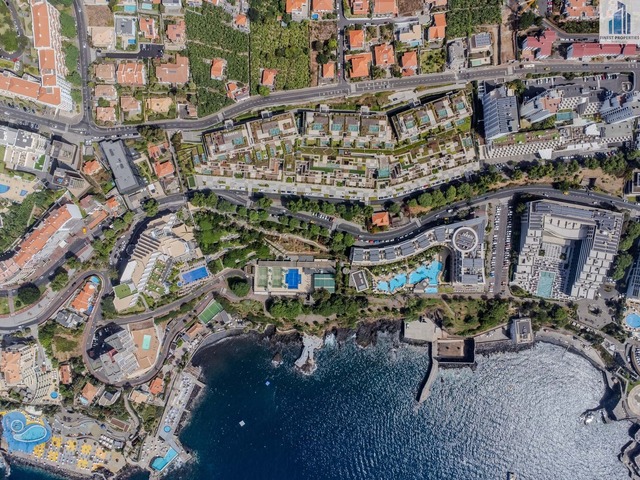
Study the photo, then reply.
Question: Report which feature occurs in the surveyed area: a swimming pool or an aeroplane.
swimming pool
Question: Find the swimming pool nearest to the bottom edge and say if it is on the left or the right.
left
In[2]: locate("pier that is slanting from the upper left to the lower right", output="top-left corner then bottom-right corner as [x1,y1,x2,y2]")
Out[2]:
[170,434,193,462]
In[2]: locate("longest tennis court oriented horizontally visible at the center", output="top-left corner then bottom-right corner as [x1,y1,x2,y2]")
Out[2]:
[254,266,311,292]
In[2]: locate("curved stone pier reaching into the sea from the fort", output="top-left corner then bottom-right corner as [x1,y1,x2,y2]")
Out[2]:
[416,359,438,401]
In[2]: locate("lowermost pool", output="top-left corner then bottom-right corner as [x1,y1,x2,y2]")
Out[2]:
[149,446,178,472]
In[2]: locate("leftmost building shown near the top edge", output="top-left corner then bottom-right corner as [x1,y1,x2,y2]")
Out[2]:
[0,0,76,115]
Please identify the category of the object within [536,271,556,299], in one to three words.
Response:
swimming pool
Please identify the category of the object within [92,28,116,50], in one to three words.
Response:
house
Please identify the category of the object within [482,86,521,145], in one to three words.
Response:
building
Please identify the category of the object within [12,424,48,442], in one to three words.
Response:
swimming pool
